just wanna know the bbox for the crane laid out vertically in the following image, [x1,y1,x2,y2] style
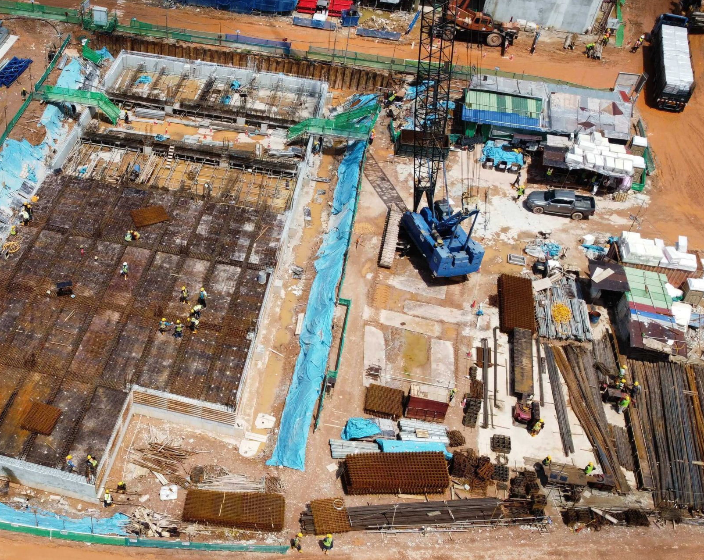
[375,0,482,285]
